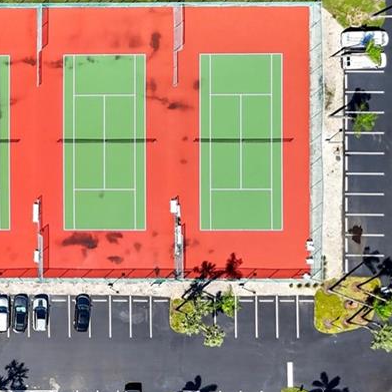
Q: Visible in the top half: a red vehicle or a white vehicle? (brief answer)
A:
white vehicle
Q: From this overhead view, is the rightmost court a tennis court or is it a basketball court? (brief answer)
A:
tennis court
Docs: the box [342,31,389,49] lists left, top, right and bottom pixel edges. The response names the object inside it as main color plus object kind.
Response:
white vehicle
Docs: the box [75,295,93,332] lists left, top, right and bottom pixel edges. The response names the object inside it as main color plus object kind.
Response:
black car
